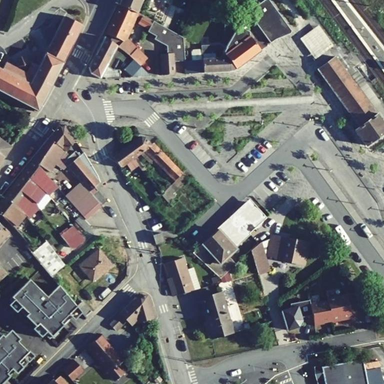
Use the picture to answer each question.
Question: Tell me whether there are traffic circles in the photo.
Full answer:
No, the picture doesn't show any traffic circle.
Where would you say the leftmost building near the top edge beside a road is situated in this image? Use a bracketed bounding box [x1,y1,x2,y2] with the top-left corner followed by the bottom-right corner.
[0,16,84,110]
